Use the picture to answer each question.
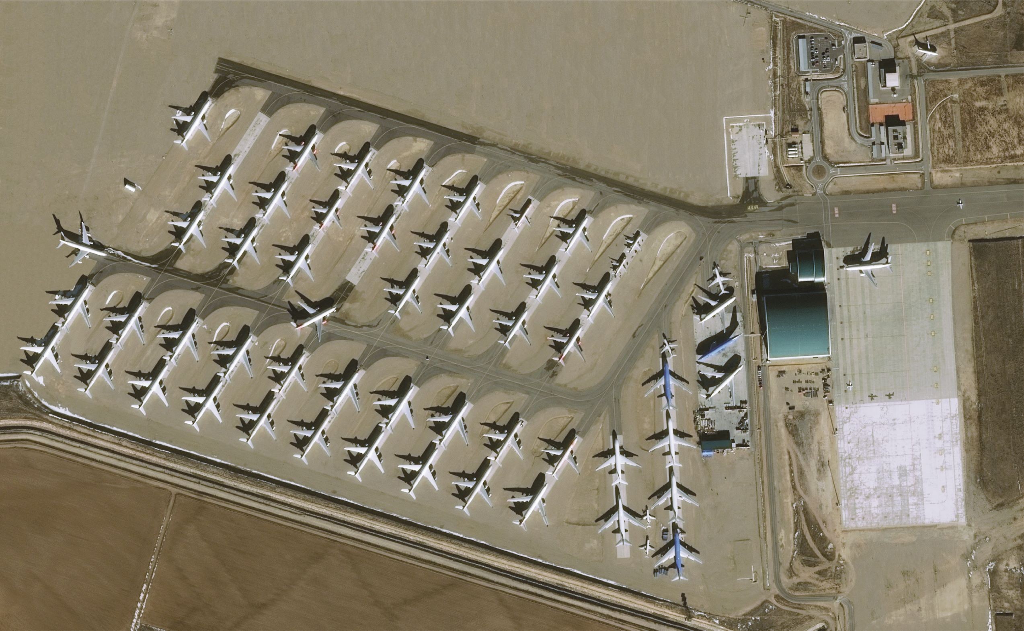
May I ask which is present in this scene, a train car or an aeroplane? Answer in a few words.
aeroplane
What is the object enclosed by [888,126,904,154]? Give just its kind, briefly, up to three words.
building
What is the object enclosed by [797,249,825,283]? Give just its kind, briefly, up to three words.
hangar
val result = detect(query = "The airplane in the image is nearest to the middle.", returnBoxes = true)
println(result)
[493,311,531,350]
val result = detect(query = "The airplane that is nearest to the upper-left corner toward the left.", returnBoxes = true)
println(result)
[171,99,211,150]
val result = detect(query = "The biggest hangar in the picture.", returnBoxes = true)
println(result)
[764,293,831,360]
